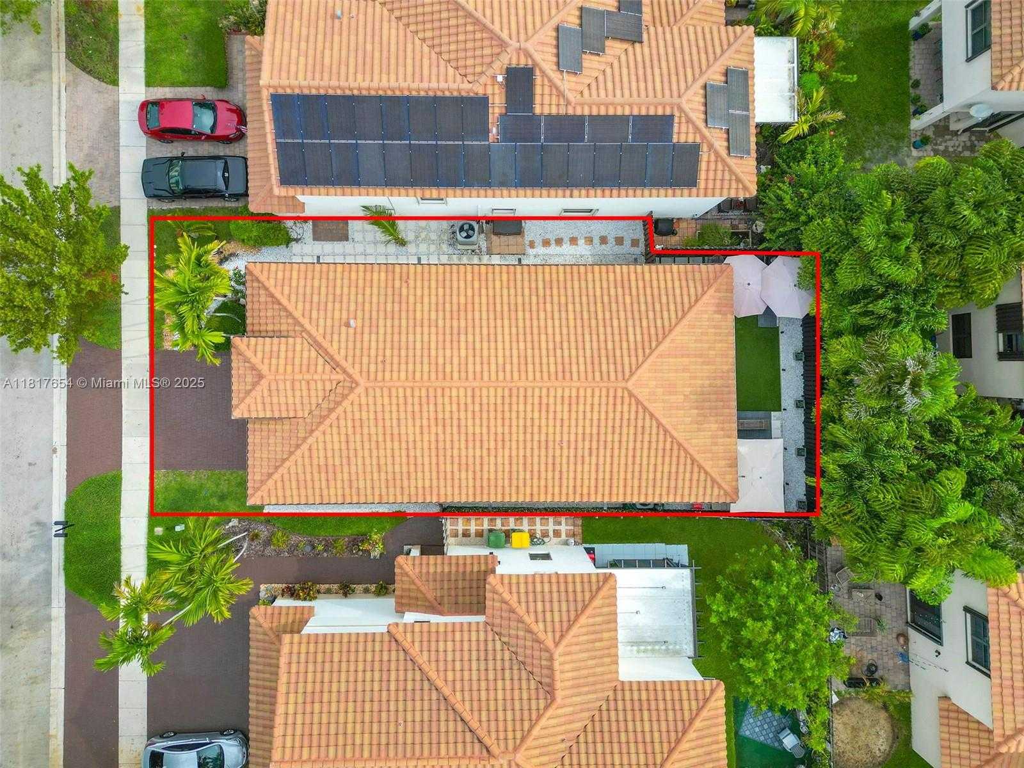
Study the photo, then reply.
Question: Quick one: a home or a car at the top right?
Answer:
home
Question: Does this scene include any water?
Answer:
No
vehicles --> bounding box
[139,90,246,142]
[142,149,247,201]
[142,727,250,768]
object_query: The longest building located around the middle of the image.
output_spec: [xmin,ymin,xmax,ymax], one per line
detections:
[228,260,742,508]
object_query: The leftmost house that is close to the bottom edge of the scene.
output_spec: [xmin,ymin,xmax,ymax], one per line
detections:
[248,546,731,768]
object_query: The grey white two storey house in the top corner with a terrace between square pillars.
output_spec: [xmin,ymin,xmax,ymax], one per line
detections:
[912,0,1024,166]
